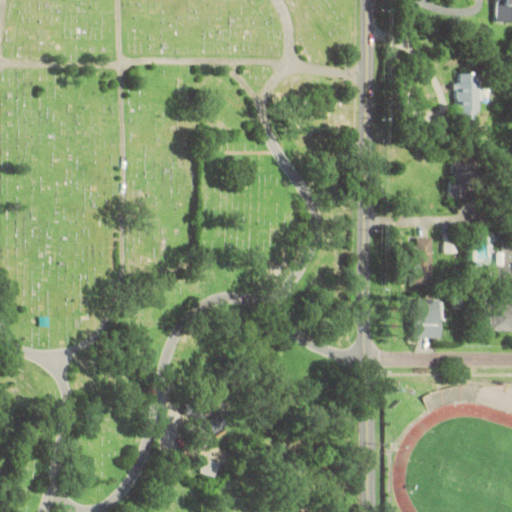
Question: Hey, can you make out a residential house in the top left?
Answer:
No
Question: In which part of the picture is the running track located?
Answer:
bottom right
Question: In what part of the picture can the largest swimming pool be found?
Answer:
right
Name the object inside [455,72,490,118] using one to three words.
house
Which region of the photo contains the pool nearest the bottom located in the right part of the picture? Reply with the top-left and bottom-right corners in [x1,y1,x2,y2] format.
[472,236,494,264]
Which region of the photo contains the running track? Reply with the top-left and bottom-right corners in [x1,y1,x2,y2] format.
[393,404,512,512]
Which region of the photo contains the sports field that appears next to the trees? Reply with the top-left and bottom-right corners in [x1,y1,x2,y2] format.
[407,418,512,512]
